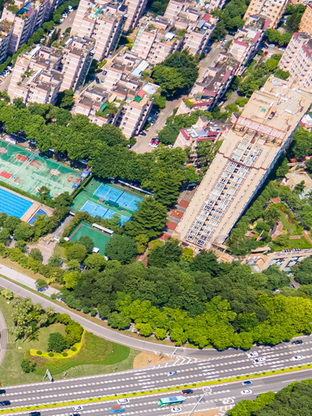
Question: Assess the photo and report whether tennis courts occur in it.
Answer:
Yes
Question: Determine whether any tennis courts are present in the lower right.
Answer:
No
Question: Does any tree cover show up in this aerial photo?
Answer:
Yes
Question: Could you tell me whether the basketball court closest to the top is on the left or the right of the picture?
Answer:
left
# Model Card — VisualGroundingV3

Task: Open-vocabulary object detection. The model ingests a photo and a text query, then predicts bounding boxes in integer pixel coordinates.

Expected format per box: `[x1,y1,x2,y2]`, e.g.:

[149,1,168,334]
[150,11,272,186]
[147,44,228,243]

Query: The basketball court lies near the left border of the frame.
[0,139,91,195]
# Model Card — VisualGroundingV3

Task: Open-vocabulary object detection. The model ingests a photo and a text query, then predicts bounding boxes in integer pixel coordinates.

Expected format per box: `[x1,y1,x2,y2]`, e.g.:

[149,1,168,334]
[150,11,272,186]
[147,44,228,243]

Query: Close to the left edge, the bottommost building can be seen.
[10,70,69,126]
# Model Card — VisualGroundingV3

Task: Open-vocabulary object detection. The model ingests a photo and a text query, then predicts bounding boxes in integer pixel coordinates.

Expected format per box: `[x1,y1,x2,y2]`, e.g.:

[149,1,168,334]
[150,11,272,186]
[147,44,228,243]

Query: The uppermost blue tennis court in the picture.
[72,174,148,225]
